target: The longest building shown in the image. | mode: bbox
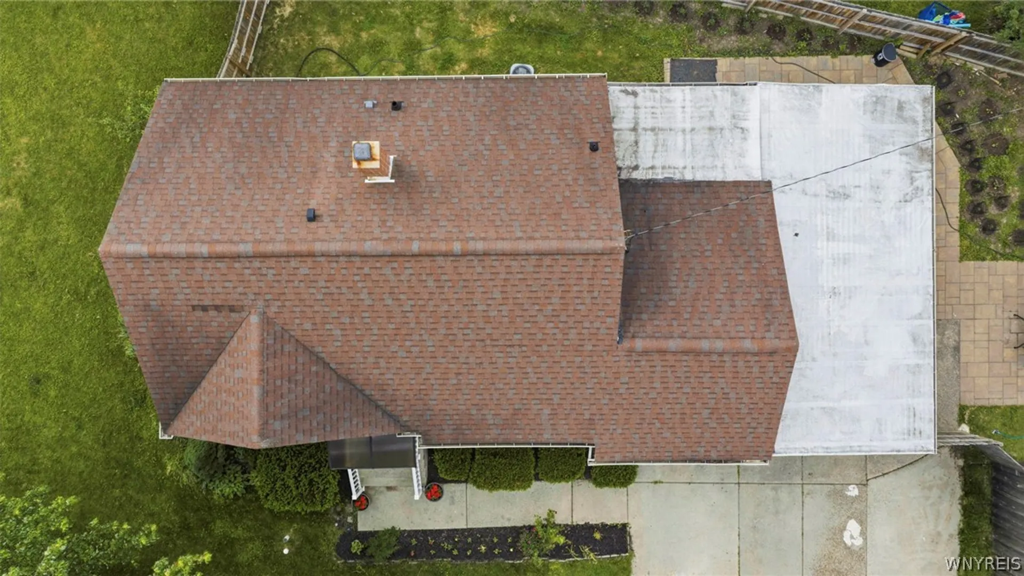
[97,75,937,468]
